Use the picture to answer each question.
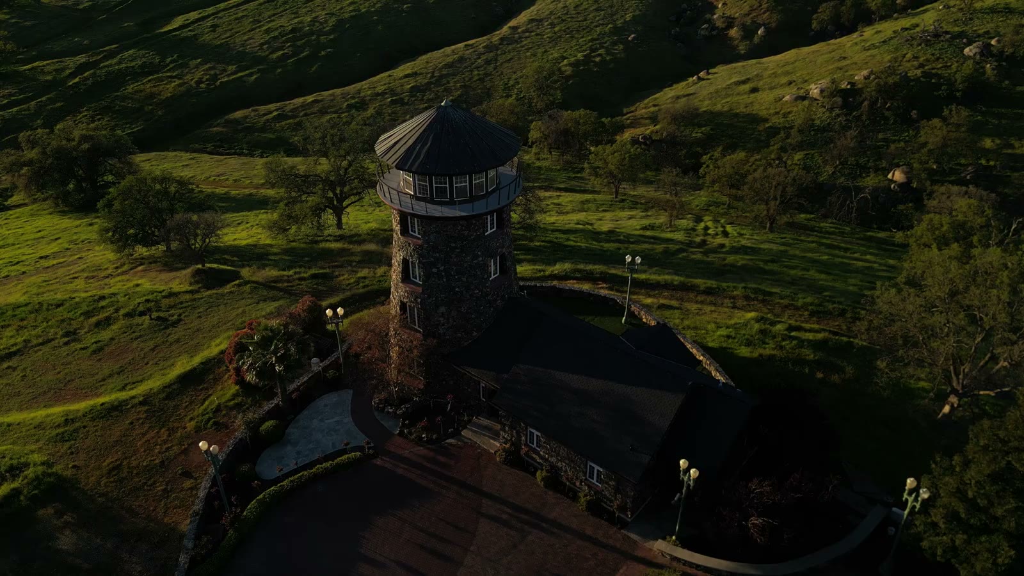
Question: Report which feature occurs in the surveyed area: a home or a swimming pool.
home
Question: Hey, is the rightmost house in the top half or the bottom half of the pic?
bottom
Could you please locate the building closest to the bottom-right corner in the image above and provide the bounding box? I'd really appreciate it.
[457,285,777,520]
